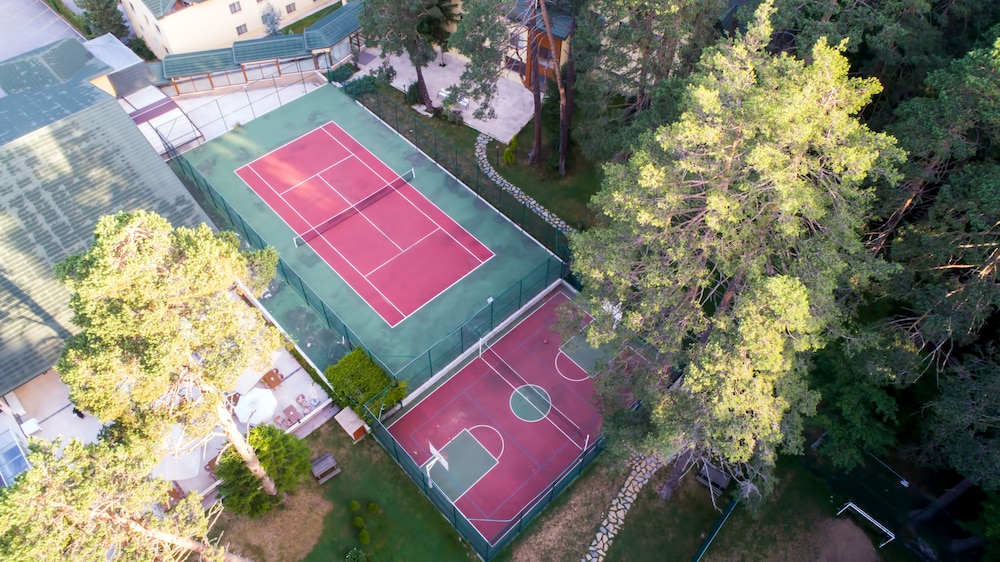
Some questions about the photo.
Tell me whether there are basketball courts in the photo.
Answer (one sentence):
Yes, the photo shows a basketball court.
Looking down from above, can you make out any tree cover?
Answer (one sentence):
Yes, the picture does contain tree cover.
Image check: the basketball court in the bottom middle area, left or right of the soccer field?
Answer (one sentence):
Looking at the photo, the basketball court in the bottom middle area lies to the left of the soccer field.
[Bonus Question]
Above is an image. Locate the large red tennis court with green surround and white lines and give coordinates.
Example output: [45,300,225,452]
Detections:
[169,82,572,395]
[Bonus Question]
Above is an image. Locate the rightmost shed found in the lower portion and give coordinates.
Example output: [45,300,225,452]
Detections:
[330,407,365,445]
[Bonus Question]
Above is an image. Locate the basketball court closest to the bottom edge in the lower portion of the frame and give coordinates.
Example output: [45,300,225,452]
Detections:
[377,282,677,557]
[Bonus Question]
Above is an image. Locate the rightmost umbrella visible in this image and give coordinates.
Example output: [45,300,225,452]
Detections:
[238,393,277,428]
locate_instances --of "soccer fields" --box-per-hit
[727,455,937,562]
